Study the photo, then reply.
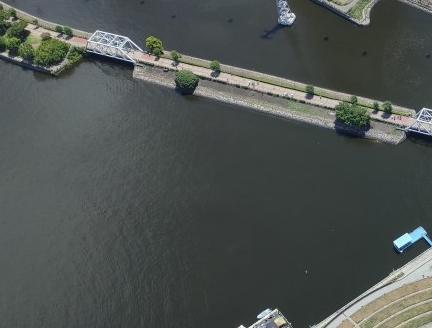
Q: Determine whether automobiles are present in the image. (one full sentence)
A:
No, the photo shows no automobile.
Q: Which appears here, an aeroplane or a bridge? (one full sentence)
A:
Visible in the photo is a bridge.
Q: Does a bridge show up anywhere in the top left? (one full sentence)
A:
Yes, a bridge shows up in the top left.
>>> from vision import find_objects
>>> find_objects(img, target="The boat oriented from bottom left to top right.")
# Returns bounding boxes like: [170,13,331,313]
[253,307,273,321]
